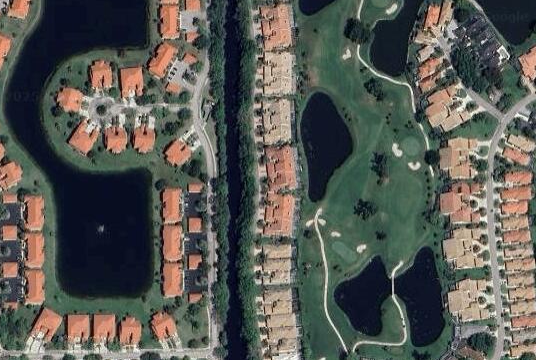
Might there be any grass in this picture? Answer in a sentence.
Yes, the picture does contain grass.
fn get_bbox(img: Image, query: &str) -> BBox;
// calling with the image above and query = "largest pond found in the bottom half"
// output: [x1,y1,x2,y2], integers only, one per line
[334,247,443,346]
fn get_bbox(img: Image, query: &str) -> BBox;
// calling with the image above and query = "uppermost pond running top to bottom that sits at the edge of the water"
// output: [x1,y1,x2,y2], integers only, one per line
[302,94,351,201]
